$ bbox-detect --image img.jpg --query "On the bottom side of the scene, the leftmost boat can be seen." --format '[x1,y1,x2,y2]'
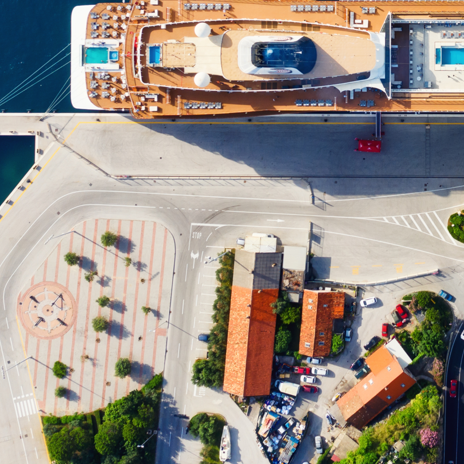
[220,424,233,463]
